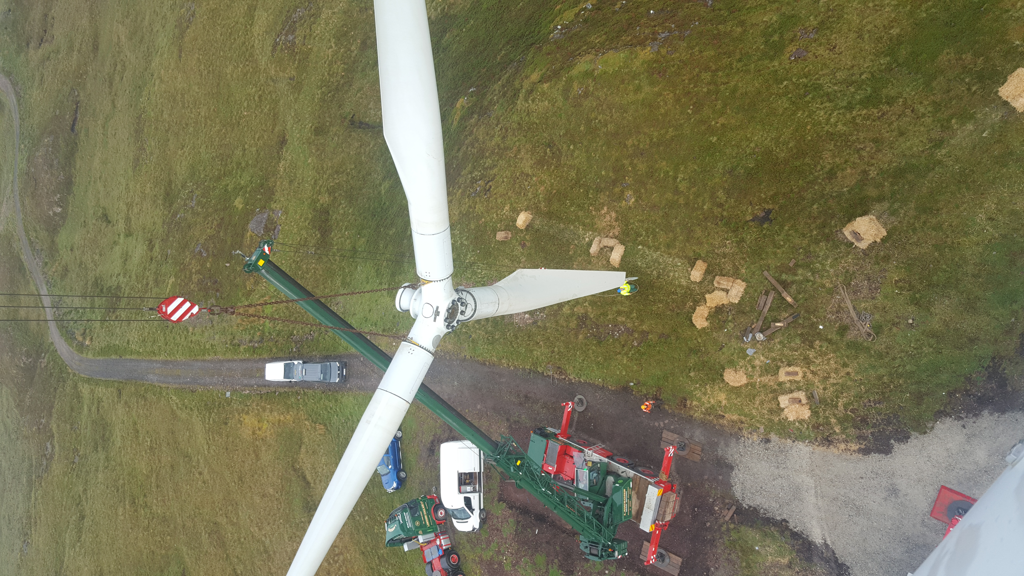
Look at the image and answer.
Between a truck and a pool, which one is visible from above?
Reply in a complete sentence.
Visible in the photo is a truck.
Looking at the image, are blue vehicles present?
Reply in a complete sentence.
Yes, a blue vehicle can be made out from above.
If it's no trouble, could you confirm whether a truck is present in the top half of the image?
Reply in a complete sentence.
No, there's no truck to be seen in the top half of the image.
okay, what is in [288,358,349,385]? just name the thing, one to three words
vehicle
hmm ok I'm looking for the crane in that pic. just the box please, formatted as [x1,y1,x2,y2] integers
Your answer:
[218,242,685,565]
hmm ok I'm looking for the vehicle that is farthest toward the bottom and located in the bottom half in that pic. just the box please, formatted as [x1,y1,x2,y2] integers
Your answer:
[387,493,464,576]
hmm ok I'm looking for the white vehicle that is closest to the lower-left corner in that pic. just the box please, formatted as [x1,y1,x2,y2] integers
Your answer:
[261,358,303,383]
